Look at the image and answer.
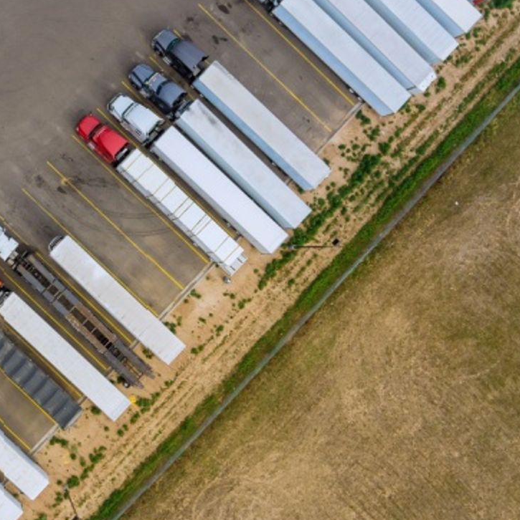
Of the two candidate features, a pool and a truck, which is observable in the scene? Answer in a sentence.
This aerial view contains a truck.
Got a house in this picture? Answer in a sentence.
No, I can't see a single house in this photo.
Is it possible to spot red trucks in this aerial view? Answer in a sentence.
Yes, there's a red truck down there.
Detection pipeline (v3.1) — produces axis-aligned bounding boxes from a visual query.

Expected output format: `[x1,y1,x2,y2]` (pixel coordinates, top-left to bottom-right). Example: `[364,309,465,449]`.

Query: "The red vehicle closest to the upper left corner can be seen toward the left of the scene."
[74,114,131,186]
